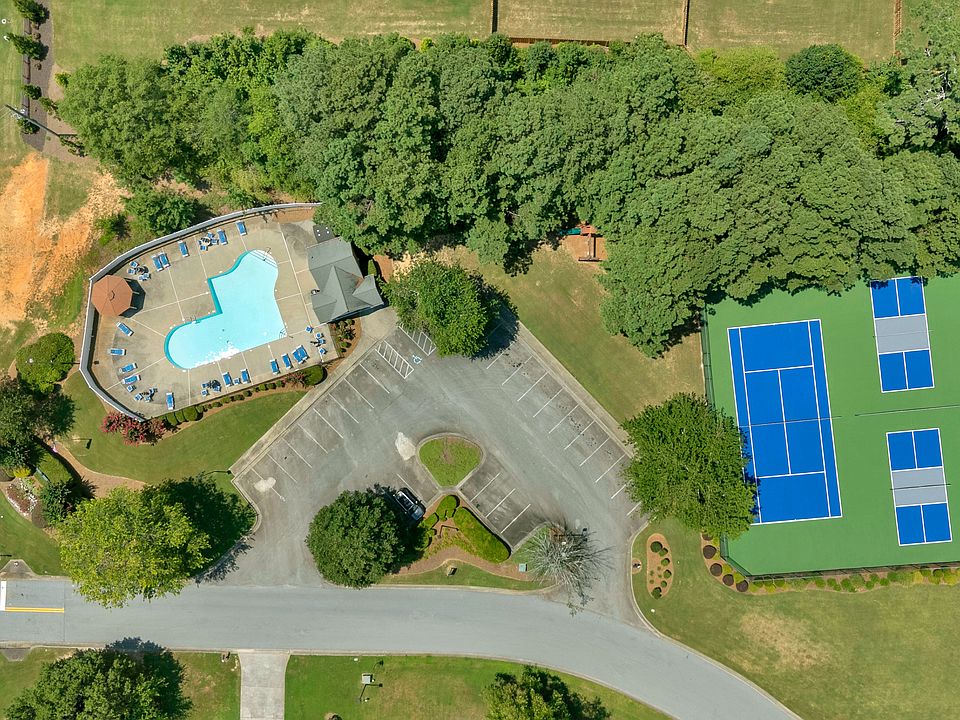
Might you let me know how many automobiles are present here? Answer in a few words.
1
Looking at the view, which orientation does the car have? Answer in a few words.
on a diagonal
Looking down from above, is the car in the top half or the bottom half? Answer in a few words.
bottom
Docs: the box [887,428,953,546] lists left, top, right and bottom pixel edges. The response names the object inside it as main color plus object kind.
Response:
blue sports court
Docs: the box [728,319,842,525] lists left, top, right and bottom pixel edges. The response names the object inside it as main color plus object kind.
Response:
blue tennis court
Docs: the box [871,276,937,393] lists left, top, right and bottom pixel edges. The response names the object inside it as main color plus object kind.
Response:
blue sports court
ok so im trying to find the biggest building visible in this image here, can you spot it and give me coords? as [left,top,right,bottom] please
[308,236,387,327]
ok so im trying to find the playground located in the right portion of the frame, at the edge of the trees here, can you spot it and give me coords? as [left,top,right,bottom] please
[564,218,603,261]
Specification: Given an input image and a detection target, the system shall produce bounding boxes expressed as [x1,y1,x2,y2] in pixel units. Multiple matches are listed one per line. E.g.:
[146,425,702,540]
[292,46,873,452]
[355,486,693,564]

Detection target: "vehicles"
[392,488,426,523]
